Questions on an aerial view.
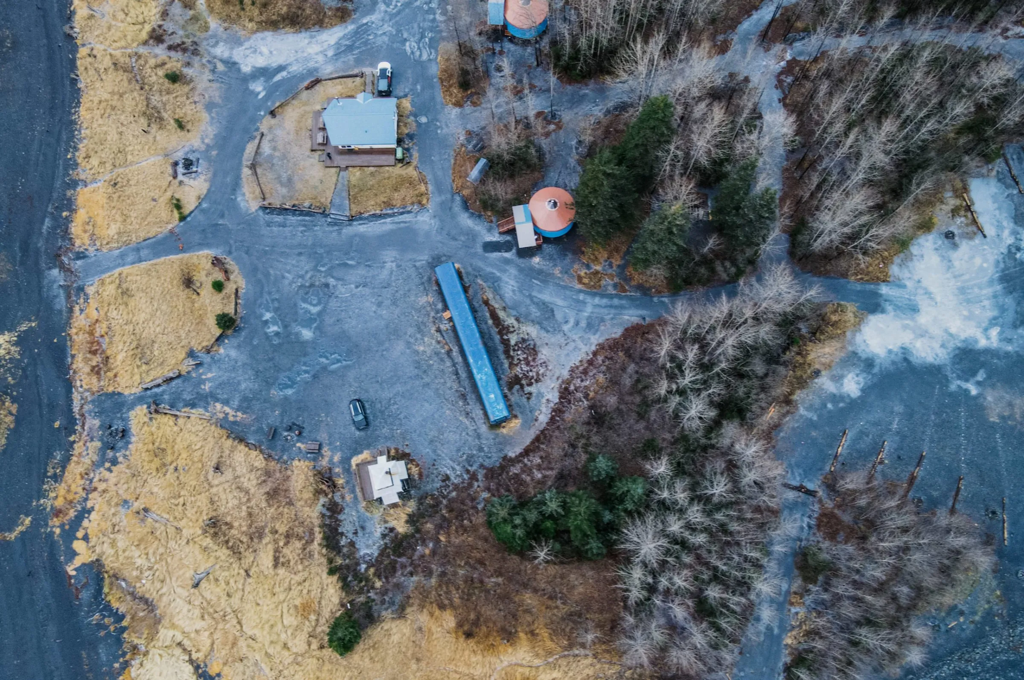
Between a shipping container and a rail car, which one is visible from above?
rail car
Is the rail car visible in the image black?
No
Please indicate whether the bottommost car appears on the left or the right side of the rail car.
to the left of it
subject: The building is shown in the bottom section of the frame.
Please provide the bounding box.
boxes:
[368,455,409,505]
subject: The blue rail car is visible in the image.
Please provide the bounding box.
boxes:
[436,264,510,426]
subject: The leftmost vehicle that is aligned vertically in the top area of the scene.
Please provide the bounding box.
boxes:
[376,63,391,95]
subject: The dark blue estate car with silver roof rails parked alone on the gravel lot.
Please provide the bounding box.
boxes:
[350,397,370,431]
